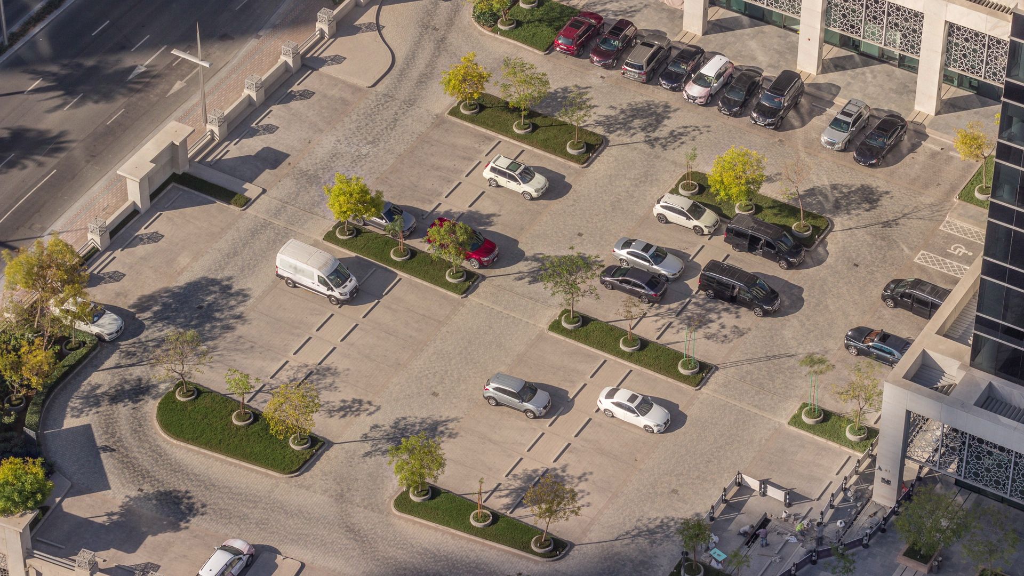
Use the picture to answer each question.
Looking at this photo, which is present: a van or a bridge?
van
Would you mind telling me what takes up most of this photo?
paved ground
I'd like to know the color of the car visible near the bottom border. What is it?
white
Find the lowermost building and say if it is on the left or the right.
right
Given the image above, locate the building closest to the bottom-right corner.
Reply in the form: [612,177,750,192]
[873,244,1024,510]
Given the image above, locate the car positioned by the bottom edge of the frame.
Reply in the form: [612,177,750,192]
[193,538,255,576]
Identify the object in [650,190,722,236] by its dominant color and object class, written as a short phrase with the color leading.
white car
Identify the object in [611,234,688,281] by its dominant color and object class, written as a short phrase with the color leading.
gray car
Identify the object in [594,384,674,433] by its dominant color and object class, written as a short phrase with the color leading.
white car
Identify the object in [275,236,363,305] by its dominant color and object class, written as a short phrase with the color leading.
white van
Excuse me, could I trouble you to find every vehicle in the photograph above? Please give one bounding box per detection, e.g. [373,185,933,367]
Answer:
[749,71,806,131]
[481,151,551,200]
[275,236,363,305]
[424,213,502,269]
[819,97,873,152]
[724,210,810,270]
[552,11,605,59]
[877,275,951,317]
[715,67,766,117]
[657,42,707,91]
[589,17,640,69]
[682,55,735,106]
[852,114,910,168]
[697,258,785,317]
[620,34,673,86]
[481,371,555,419]
[598,262,674,306]
[650,190,722,236]
[193,538,255,576]
[594,384,674,433]
[611,234,688,281]
[839,325,913,367]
